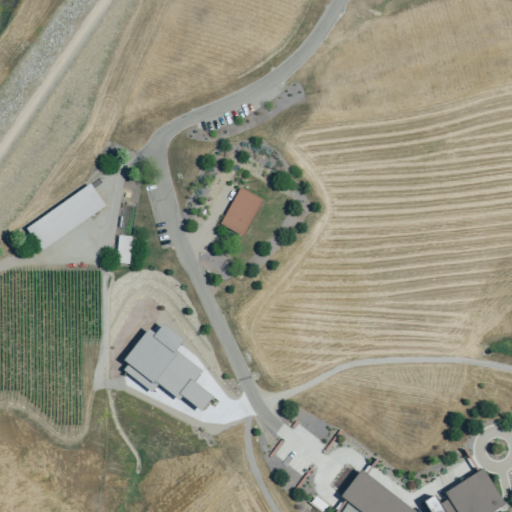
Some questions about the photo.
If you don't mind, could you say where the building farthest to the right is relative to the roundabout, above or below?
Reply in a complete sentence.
The position of the building farthest to the right is below the roundabout.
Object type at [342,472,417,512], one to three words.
building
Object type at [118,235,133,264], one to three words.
shed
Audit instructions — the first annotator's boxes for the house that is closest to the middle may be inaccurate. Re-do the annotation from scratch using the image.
[223,188,263,236]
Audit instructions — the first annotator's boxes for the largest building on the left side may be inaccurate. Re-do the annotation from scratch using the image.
[124,324,214,410]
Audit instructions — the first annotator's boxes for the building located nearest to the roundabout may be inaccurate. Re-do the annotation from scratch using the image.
[442,470,506,512]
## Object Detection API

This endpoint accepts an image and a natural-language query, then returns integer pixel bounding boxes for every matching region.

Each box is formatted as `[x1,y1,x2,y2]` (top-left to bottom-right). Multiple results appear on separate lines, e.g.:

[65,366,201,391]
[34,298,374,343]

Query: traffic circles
[474,426,512,473]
